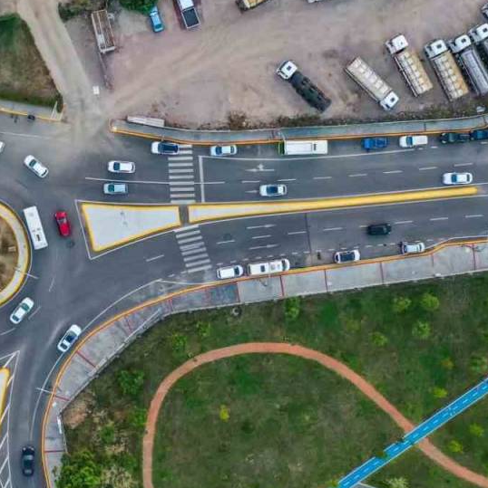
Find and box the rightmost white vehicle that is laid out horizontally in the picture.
[440,171,472,186]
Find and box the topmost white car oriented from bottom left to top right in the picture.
[9,297,35,325]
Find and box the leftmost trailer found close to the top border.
[91,9,117,72]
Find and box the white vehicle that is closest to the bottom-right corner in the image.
[397,240,423,255]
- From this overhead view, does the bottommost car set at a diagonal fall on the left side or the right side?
left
